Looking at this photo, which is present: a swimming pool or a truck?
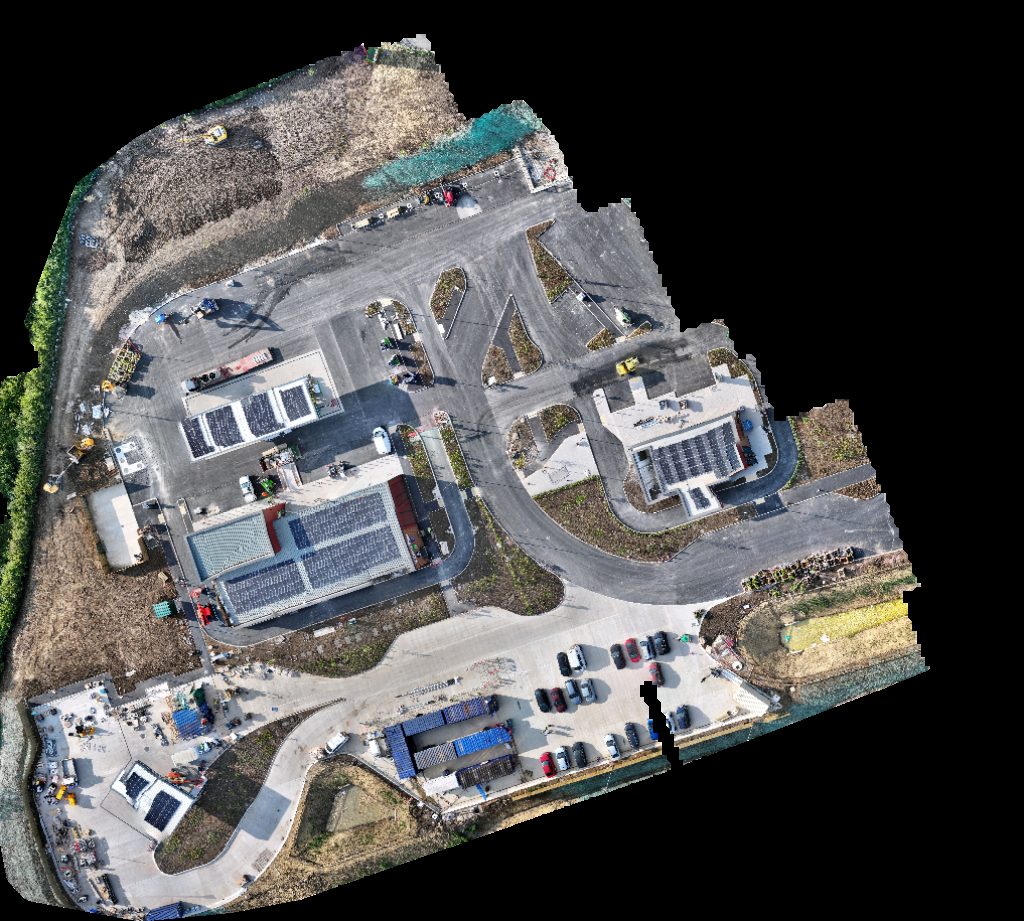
truck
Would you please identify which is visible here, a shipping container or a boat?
shipping container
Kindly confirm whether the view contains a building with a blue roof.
Yes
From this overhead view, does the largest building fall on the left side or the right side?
left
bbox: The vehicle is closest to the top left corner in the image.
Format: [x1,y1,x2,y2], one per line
[174,123,229,148]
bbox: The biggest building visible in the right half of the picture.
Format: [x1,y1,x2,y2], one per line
[631,412,751,519]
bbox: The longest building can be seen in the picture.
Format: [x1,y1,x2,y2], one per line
[184,475,430,632]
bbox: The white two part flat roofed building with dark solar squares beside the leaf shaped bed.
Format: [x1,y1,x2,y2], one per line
[110,761,196,845]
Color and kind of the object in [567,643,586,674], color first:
white car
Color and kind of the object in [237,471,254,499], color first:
white vehicle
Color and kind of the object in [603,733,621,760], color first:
white car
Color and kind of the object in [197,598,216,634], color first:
red work vehicle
